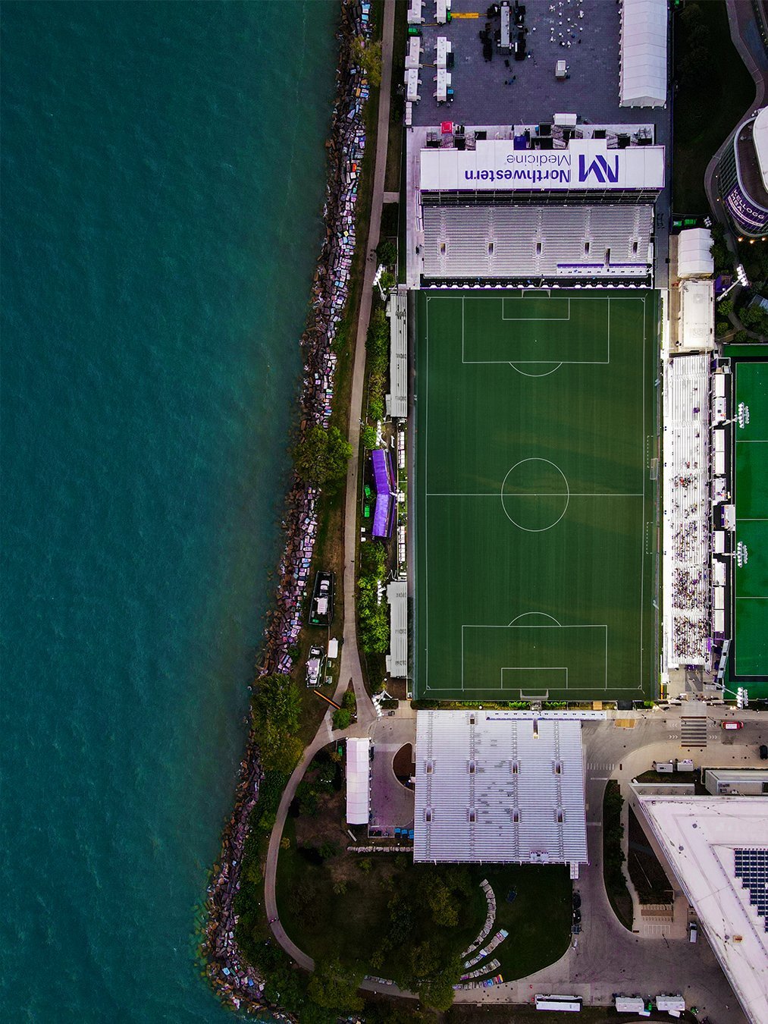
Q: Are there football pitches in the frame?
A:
Yes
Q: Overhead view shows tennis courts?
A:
No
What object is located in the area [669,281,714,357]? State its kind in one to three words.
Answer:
building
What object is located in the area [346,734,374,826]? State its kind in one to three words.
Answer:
tent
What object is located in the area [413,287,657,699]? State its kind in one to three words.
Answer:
soccer field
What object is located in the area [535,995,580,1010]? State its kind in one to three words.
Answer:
vehicle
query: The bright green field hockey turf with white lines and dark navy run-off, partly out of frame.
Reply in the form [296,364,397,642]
[723,347,768,703]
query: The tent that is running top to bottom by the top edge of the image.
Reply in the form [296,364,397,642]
[617,0,668,110]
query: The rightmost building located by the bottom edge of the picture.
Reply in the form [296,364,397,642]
[626,779,768,1024]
